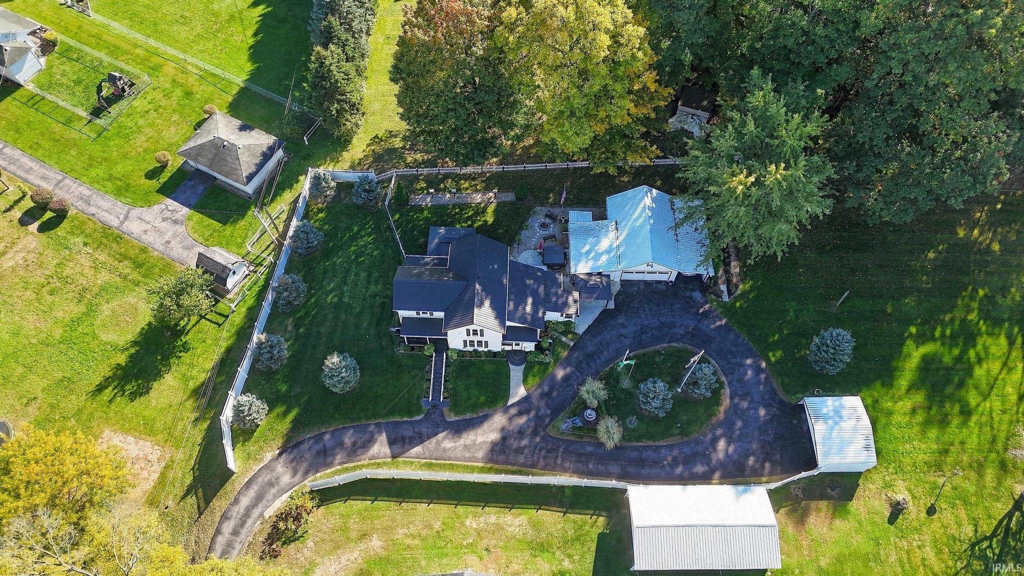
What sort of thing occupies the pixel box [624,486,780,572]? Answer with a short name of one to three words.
barn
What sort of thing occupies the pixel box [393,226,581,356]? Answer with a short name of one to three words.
house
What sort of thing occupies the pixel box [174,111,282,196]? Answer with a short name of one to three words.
building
